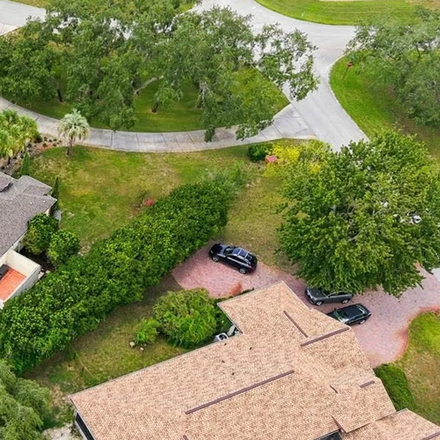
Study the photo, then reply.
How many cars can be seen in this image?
three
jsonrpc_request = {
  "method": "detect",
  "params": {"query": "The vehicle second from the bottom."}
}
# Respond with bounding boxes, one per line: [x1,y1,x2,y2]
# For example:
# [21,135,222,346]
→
[305,282,355,305]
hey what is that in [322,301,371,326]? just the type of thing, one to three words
car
